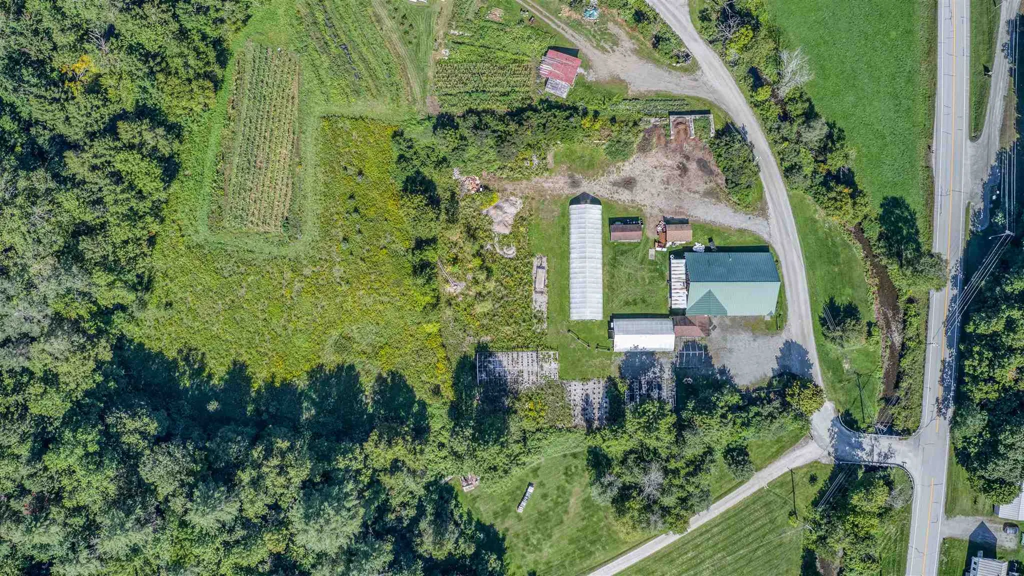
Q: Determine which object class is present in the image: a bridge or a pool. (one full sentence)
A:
Visible in the photo is a bridge.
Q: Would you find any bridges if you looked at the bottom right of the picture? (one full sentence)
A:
Yes, a bridge can be seen at the bottom right of the picture.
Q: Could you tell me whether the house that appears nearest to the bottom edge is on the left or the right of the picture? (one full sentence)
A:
The house that appears nearest to the bottom edge sits on the right side.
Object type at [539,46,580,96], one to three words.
shed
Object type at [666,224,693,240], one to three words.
shed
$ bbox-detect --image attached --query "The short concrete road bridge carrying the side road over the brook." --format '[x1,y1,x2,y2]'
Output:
[848,433,905,465]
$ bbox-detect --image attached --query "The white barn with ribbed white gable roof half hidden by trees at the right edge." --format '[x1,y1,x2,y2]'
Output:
[993,491,1024,522]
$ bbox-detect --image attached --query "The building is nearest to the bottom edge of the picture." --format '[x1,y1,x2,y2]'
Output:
[964,547,1012,576]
